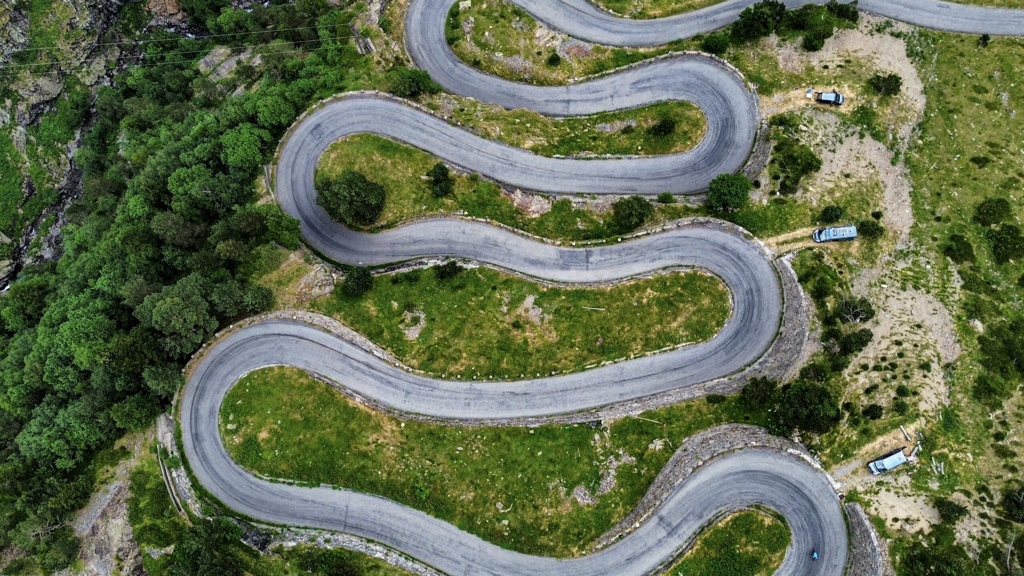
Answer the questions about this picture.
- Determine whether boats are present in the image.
No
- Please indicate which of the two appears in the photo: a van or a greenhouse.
van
